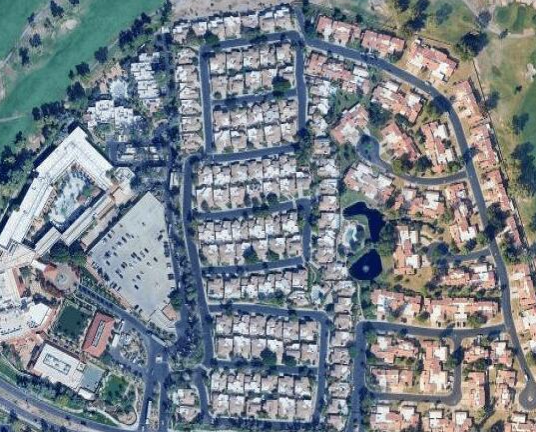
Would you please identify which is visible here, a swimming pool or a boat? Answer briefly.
swimming pool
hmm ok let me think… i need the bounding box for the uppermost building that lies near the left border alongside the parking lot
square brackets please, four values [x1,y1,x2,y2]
[0,125,137,257]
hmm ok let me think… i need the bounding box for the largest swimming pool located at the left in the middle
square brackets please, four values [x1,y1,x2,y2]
[40,164,95,227]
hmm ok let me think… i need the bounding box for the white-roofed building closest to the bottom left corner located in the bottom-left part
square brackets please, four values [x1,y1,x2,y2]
[31,343,94,406]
